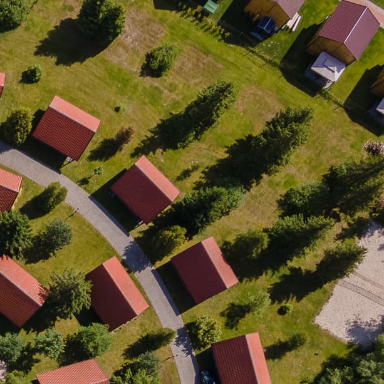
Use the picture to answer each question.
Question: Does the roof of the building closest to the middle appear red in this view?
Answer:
Yes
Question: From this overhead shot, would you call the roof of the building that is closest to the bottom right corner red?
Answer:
Yes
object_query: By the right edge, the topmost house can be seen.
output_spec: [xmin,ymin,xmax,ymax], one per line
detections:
[306,0,379,63]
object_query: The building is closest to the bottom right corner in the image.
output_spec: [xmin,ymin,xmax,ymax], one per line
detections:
[209,331,272,384]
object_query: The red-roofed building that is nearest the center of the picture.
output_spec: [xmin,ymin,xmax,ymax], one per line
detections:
[109,155,180,227]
